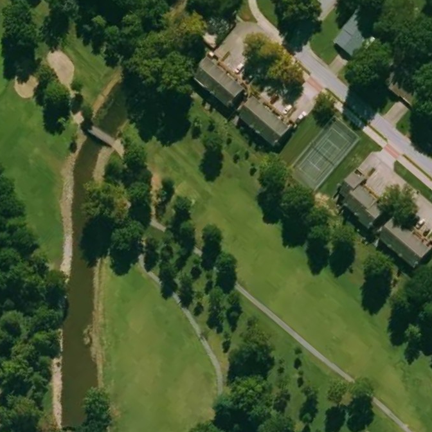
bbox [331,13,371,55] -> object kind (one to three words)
house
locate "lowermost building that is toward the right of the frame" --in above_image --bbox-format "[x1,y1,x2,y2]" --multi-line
[377,220,432,269]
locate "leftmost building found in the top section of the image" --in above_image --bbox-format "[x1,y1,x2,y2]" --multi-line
[198,56,246,107]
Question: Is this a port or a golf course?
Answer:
golf course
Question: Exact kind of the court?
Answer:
tennis court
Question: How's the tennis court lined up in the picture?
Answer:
at an angle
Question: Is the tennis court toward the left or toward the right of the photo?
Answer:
right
